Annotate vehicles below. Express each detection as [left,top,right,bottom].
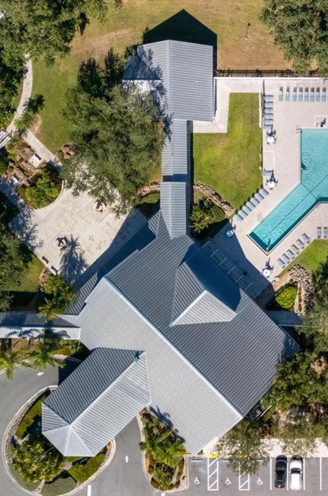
[288,457,303,488]
[273,457,287,488]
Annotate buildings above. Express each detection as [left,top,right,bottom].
[121,39,213,122]
[42,210,299,455]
